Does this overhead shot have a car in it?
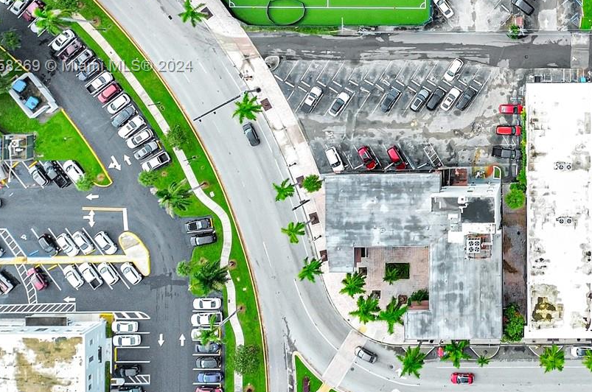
Yes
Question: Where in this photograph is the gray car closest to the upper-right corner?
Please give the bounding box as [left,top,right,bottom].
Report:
[511,0,534,17]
